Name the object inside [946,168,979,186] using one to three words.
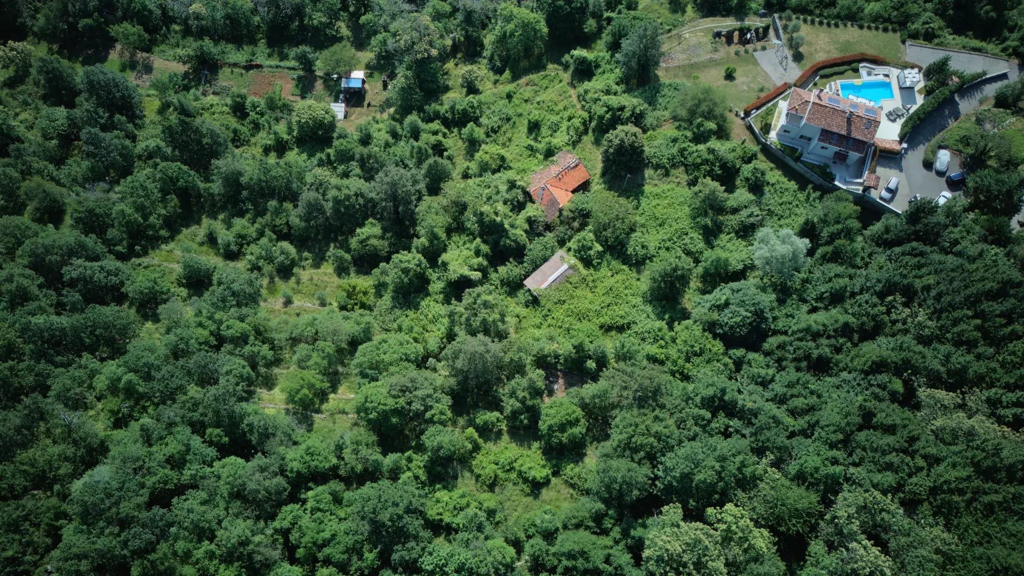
car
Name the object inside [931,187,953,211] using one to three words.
car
